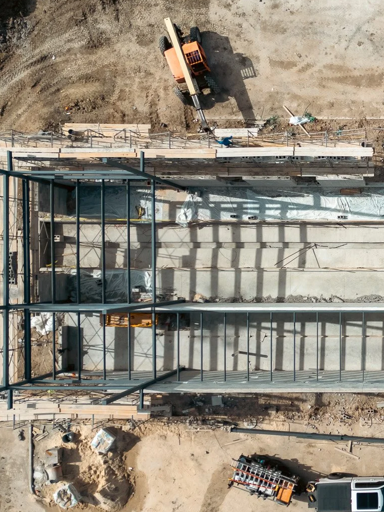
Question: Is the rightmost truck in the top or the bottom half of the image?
bottom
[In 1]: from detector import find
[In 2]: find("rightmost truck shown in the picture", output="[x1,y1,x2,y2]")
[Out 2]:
[306,474,384,512]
